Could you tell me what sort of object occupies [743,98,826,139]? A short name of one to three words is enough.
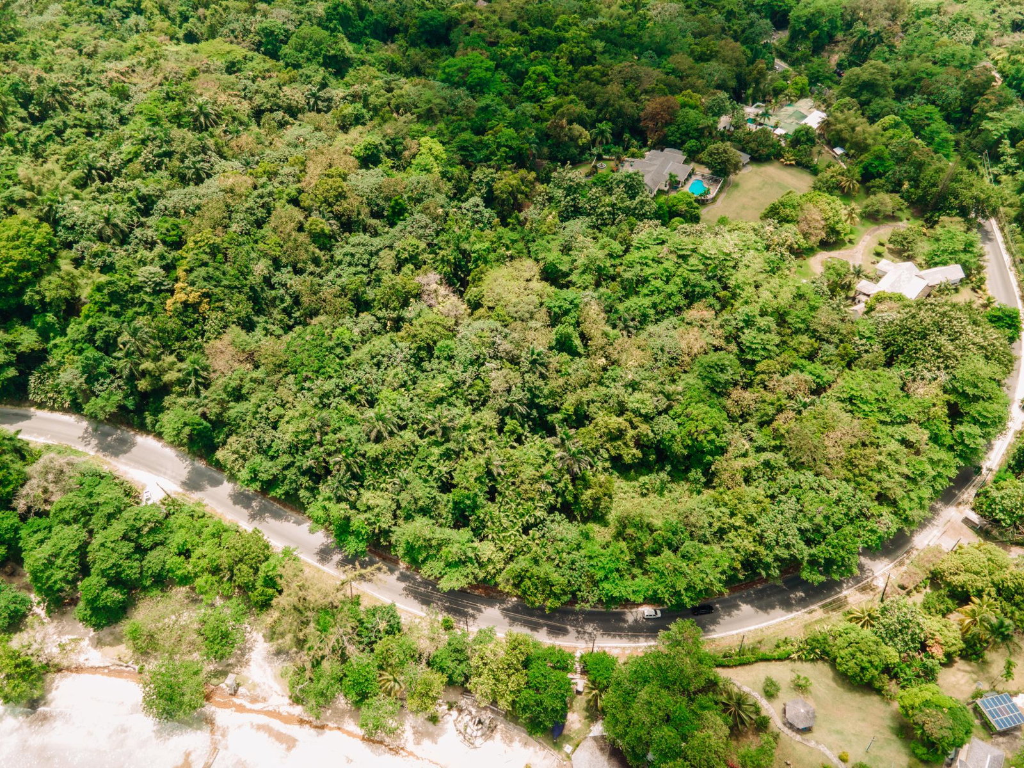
building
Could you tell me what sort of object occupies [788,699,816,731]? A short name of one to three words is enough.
gazebo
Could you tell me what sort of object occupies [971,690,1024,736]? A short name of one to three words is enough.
house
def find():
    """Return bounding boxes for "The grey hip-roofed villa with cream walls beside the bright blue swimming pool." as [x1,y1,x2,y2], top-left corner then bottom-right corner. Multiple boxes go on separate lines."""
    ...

[619,149,695,195]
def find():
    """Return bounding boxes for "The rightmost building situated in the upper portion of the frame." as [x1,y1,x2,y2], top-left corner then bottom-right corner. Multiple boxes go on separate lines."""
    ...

[856,259,965,300]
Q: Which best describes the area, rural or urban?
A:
rural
